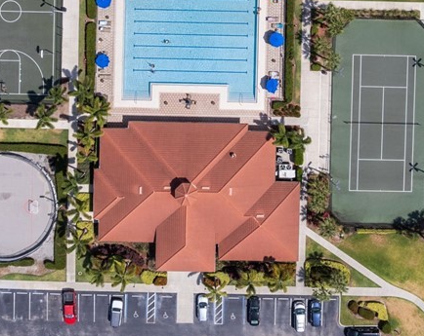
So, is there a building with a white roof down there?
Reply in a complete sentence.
No, no building with a white roof is visible in the view.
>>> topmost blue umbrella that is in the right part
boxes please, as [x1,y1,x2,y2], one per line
[268,31,284,48]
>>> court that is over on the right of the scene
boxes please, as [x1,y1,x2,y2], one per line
[331,19,424,223]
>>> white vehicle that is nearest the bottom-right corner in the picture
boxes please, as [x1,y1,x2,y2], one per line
[293,298,306,333]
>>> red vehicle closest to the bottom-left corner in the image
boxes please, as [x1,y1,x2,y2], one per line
[62,288,75,325]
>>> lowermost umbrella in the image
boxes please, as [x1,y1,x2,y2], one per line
[263,78,279,94]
